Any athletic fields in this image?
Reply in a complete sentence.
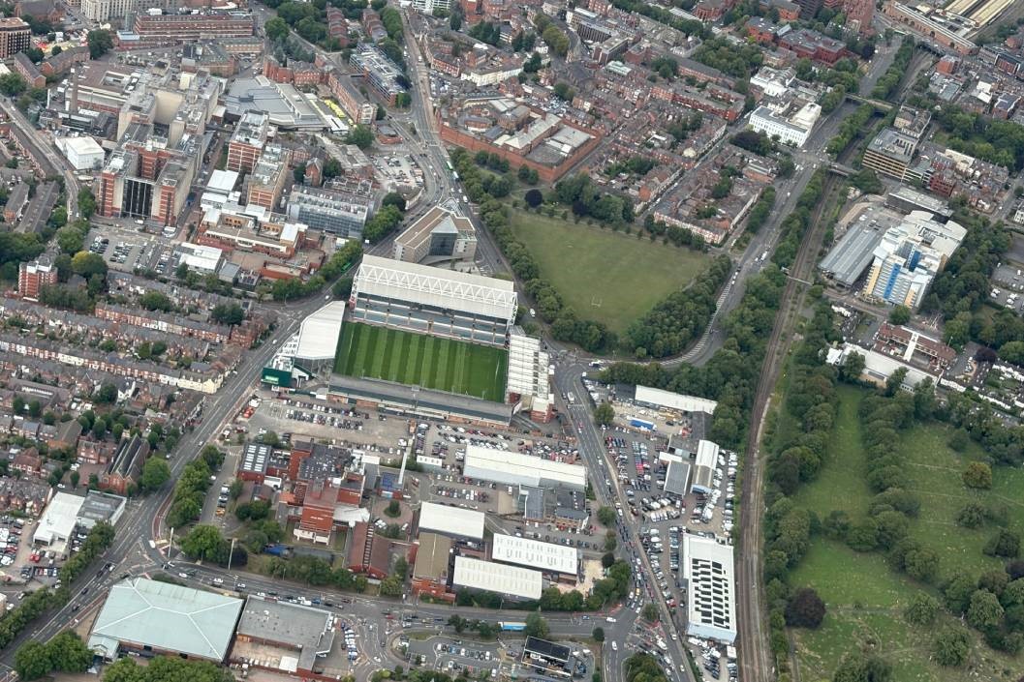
Yes, there is an athletic field in the image.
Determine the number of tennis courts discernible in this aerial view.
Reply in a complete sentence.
The picture shows no tennis courts.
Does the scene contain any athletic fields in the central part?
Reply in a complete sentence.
Yes, an athletic field shows up in the central part.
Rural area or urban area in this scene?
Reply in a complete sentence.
The area shown here is urban.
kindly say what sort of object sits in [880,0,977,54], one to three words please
train station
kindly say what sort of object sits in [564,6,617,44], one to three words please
building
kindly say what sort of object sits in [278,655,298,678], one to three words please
shed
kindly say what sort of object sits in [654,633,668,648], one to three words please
vehicle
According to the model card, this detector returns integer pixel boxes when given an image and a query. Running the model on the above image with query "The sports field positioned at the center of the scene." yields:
[332,321,509,404]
